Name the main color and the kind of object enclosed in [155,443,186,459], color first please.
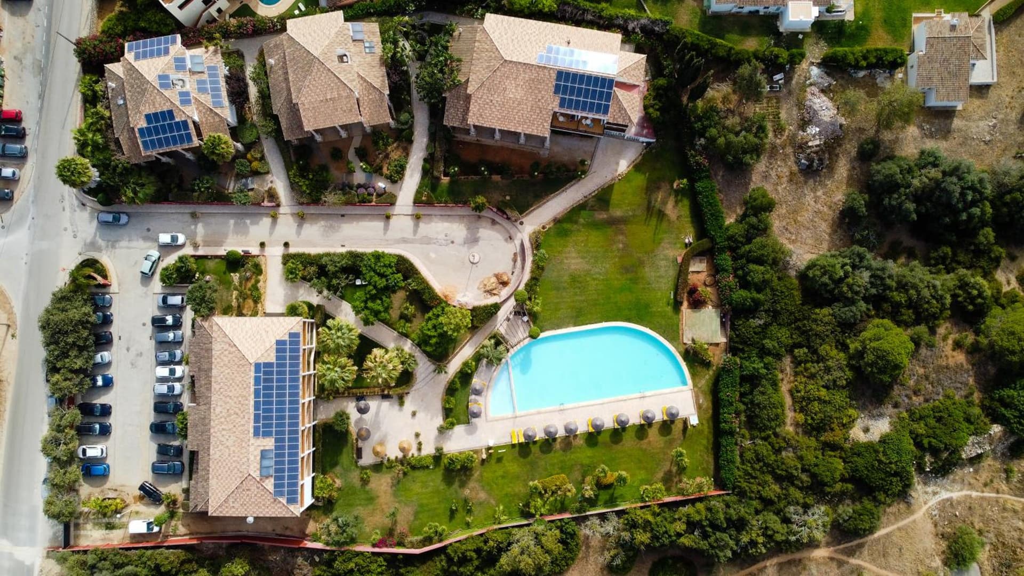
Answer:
black car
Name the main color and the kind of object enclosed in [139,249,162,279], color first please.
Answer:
white car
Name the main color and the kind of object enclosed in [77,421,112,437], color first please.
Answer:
black car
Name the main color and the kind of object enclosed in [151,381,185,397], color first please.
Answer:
white car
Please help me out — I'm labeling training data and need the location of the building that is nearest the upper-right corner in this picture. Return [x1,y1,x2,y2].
[900,11,1003,108]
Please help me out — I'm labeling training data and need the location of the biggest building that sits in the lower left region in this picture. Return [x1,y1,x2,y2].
[186,316,327,524]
